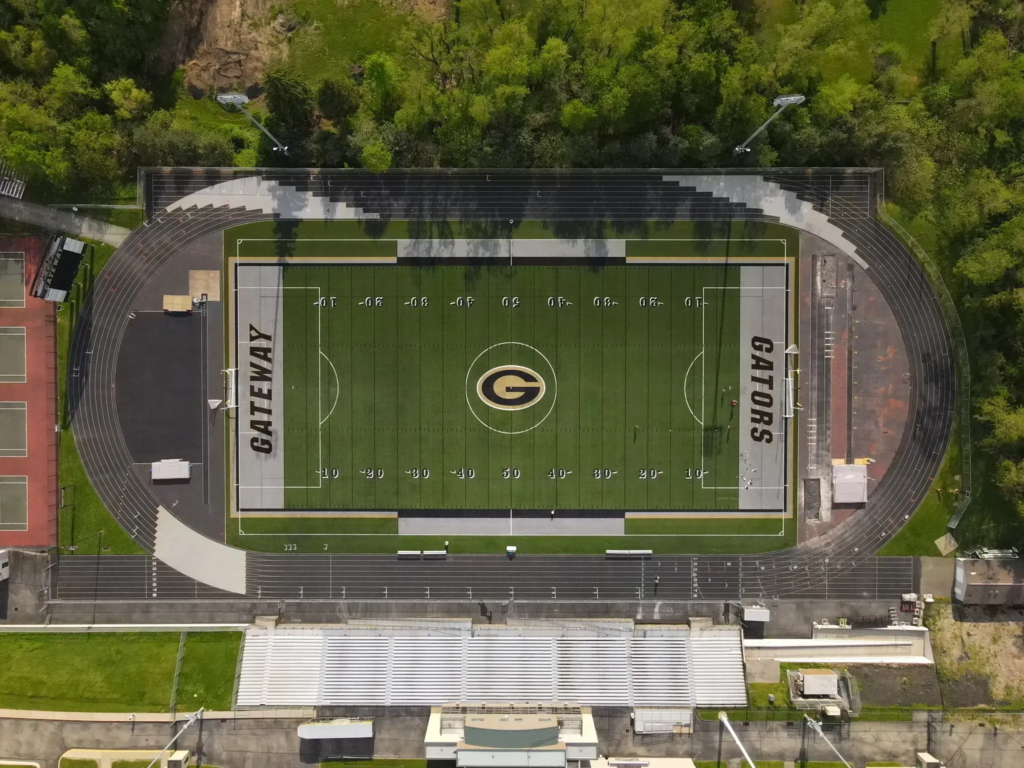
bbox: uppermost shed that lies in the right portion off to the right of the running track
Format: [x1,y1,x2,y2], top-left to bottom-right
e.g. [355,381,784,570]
[955,558,1024,607]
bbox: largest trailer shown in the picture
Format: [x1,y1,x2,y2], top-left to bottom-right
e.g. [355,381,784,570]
[296,717,374,739]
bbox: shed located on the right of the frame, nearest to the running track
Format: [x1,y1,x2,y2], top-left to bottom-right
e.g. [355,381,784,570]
[742,605,771,623]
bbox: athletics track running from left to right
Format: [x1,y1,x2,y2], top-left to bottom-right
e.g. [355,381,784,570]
[51,170,954,600]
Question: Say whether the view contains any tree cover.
Yes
